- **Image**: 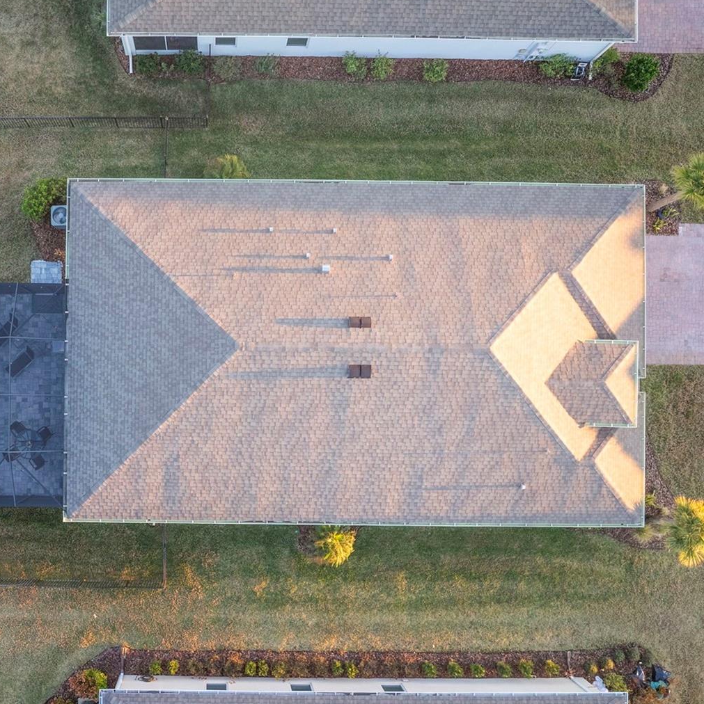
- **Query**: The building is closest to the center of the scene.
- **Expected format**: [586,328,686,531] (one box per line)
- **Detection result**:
[63,178,646,528]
